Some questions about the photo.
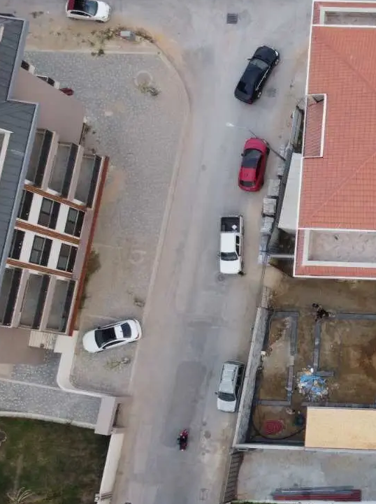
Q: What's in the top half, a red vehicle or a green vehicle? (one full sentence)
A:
The feature located in the top half is a red vehicle.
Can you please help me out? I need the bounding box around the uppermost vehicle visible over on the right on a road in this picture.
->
[234,46,280,102]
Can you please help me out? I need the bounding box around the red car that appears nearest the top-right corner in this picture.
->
[239,138,270,190]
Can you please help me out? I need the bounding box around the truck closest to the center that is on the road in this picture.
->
[215,215,246,276]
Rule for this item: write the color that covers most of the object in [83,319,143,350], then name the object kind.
white car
